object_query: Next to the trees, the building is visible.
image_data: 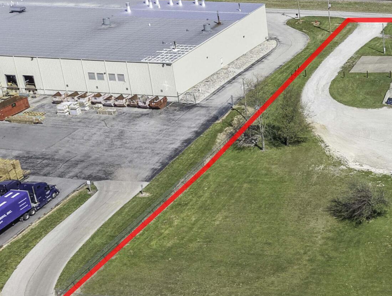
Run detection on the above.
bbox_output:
[0,0,268,100]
